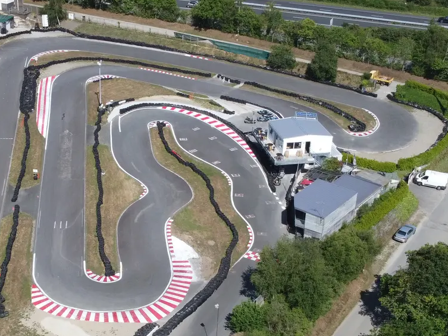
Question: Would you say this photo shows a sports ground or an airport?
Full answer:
What you see here is a sports ground.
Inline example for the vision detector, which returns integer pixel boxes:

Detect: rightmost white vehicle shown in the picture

[411,169,448,188]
